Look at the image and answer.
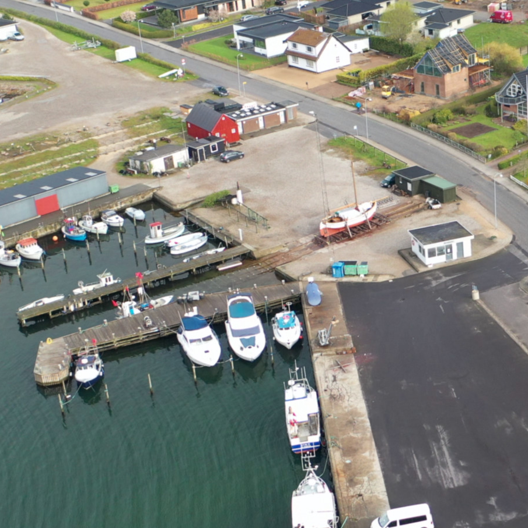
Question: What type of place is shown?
port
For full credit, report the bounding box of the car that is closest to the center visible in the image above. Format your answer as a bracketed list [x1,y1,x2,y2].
[218,150,246,164]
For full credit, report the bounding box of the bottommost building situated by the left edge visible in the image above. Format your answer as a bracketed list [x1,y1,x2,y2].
[0,159,97,225]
